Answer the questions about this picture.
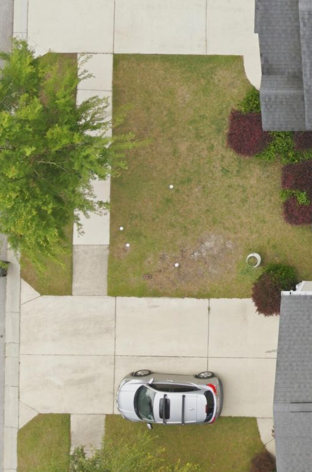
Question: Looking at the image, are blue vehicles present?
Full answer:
No, there is no blue vehicle in the image.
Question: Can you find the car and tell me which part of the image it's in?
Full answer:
Look in the bottom portion of the view to spot the car.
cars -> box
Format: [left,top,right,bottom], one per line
[117,371,226,431]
